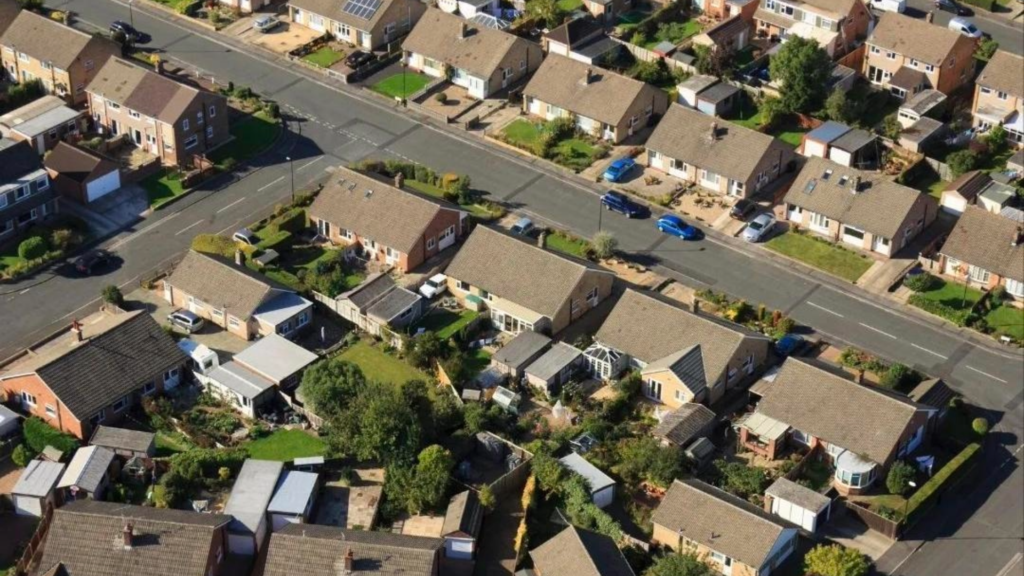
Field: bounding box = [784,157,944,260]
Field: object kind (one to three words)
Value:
house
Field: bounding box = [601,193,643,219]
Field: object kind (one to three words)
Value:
car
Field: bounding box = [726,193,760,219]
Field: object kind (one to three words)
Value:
car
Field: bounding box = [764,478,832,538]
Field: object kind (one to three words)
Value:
building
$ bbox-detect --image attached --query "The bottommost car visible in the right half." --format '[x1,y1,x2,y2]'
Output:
[772,328,810,357]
